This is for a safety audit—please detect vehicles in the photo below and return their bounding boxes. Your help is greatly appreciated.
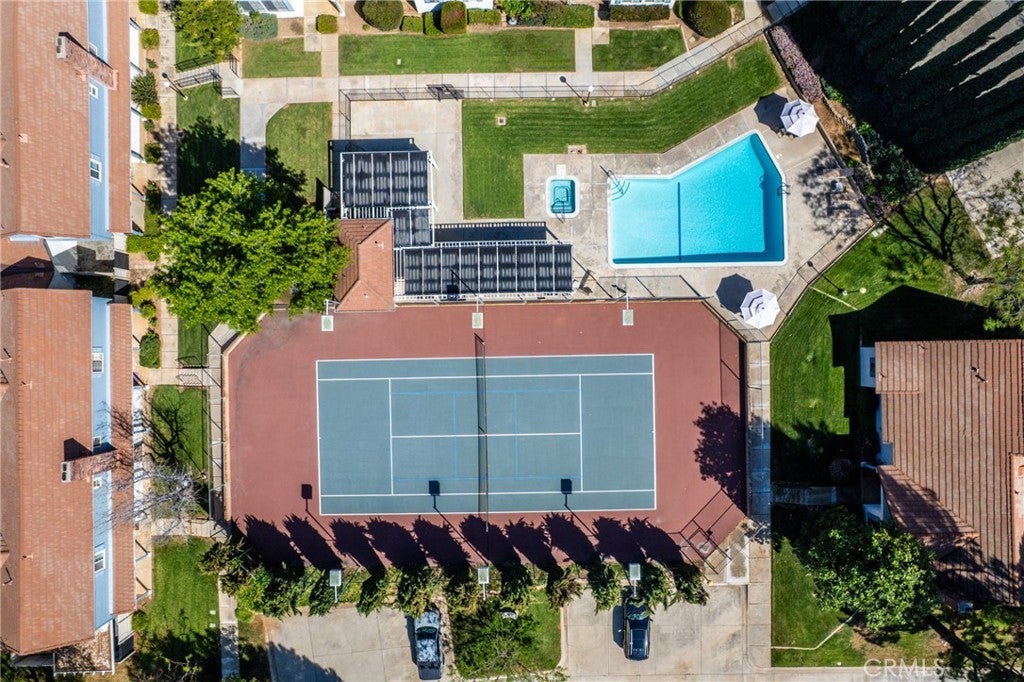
[410,607,442,680]
[621,593,654,663]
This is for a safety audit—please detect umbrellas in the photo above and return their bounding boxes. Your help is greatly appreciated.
[739,289,779,328]
[779,99,818,138]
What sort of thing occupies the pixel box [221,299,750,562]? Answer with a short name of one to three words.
tennis court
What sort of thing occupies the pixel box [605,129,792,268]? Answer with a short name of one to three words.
swimming pool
